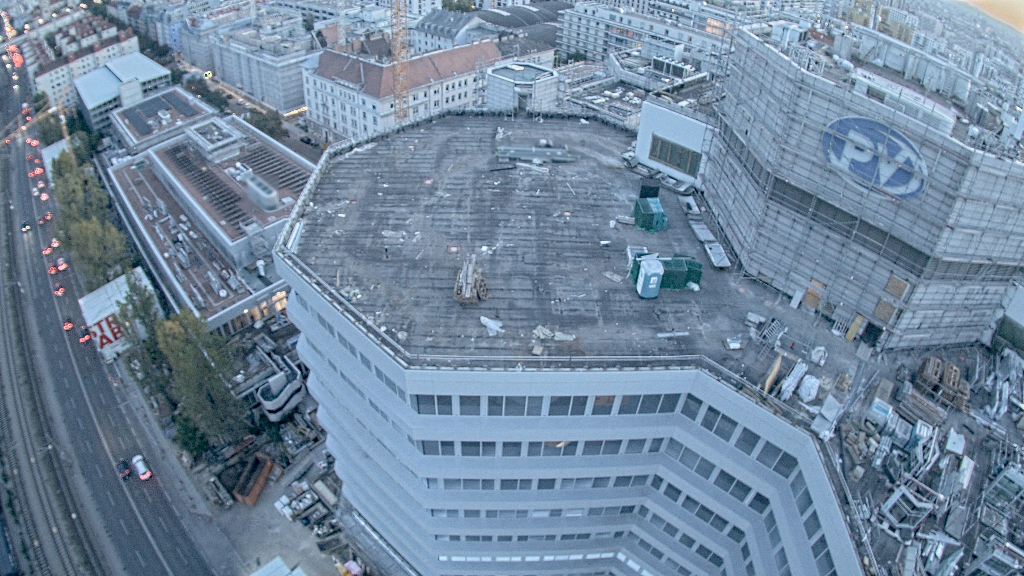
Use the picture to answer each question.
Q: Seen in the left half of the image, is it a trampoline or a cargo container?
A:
cargo container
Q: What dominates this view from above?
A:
buildings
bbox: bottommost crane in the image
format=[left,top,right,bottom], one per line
[0,85,78,147]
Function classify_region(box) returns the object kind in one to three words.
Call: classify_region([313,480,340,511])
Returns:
shipping container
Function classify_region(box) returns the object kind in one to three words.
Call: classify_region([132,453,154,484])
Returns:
car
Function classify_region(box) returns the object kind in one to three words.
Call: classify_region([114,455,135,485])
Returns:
car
